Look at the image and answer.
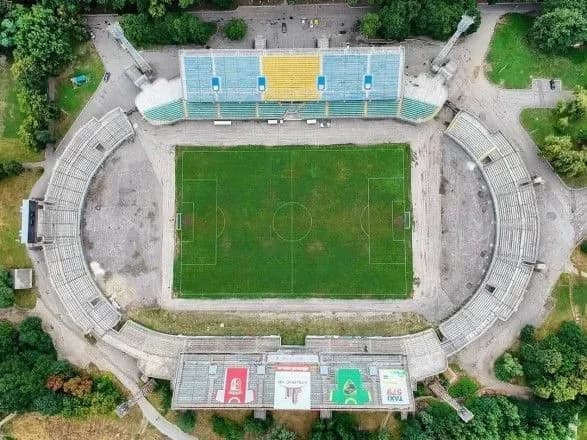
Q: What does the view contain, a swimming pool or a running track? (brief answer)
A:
running track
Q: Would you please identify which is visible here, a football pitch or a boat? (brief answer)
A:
football pitch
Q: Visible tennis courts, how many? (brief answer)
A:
zero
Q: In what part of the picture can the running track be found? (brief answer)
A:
center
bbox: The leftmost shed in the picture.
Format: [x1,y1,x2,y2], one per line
[15,269,32,289]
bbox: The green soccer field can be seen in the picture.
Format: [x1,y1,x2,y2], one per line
[172,144,413,299]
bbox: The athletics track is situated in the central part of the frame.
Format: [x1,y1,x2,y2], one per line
[139,122,450,321]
